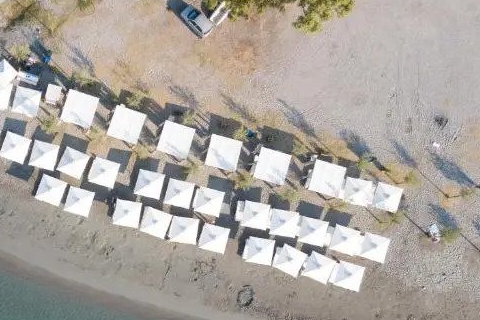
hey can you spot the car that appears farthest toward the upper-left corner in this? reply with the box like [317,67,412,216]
[178,5,212,40]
